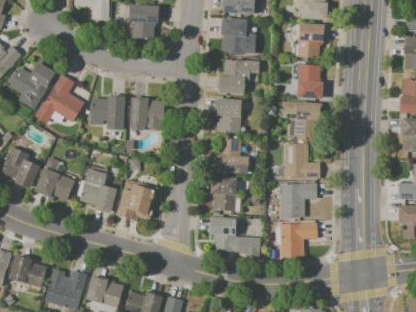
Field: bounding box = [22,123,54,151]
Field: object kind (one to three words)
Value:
swimming pool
